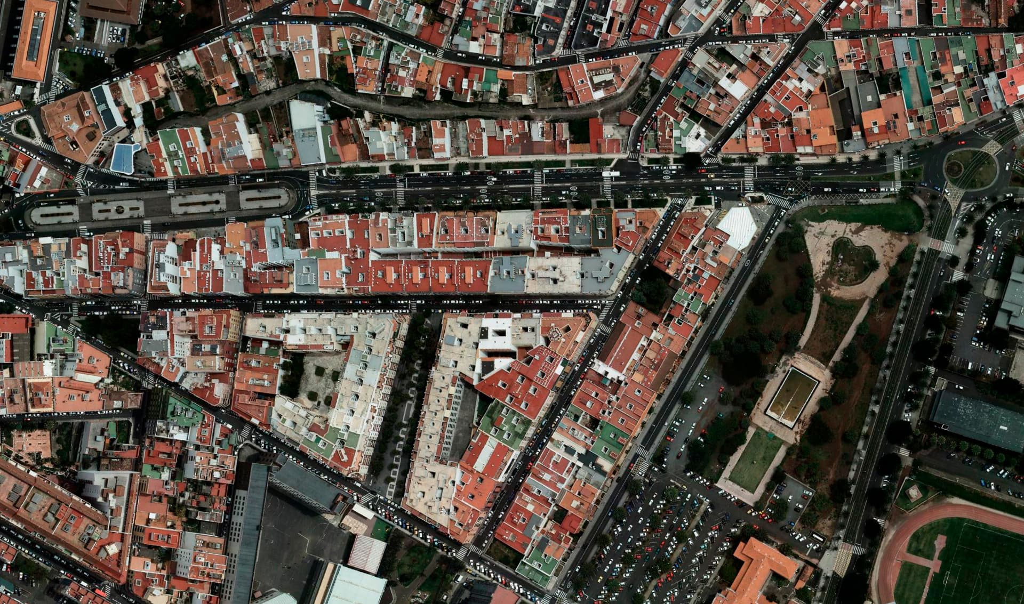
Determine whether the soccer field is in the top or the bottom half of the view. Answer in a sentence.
You can find the soccer field in the bottom half.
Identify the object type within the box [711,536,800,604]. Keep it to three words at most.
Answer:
building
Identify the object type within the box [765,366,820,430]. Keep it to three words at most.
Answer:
pond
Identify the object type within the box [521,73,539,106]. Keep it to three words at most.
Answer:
house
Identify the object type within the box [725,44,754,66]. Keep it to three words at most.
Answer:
house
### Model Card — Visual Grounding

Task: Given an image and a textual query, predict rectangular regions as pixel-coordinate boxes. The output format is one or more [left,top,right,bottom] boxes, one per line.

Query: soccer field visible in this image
[892,517,1024,604]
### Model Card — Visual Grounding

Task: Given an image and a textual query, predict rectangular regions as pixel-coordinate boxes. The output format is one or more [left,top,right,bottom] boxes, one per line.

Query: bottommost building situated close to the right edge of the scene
[930,390,1024,456]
